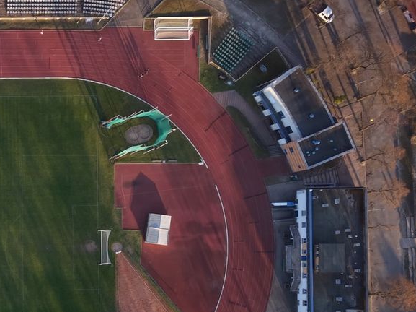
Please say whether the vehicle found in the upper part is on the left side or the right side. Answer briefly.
right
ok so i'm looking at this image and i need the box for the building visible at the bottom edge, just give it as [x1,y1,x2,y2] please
[297,187,369,312]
